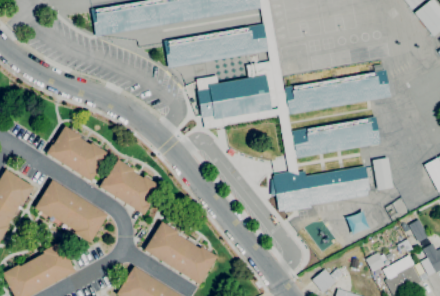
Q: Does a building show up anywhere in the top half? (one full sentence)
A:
Yes, a building appears in the top half.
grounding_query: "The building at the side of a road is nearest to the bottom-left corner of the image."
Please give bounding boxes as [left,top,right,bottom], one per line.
[4,247,74,296]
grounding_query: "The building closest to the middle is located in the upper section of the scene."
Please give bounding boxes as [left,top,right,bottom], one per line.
[197,62,274,118]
